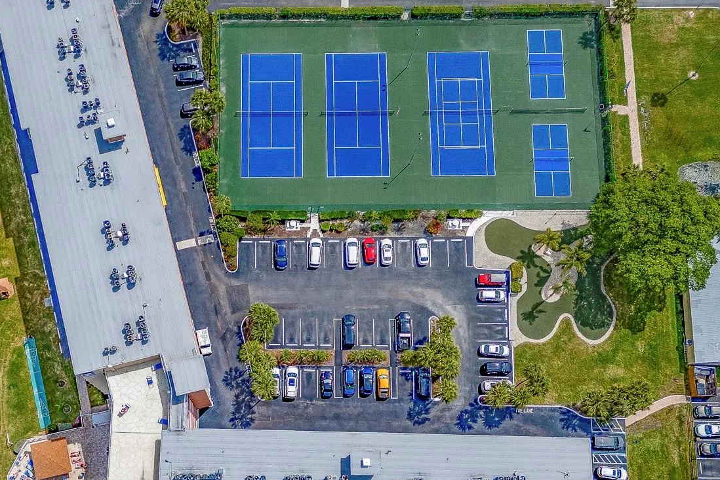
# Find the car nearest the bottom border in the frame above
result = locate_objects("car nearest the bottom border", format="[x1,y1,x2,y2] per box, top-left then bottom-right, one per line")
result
[595,466,625,480]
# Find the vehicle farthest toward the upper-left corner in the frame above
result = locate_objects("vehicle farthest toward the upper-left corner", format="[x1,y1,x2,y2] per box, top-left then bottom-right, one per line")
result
[151,0,164,18]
